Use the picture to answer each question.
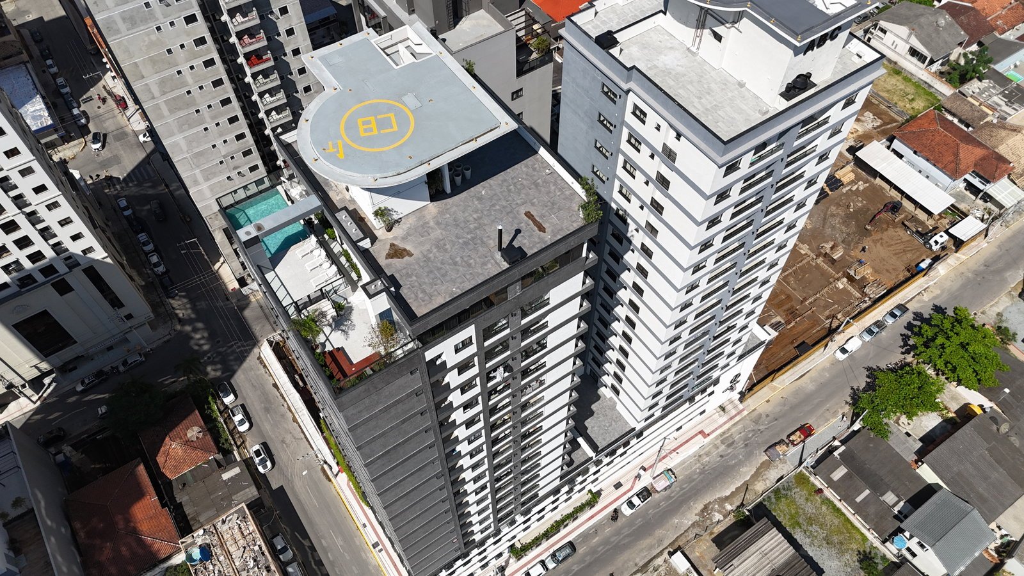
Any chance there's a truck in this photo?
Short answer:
Yes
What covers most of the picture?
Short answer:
buildings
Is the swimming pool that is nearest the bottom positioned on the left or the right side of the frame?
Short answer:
left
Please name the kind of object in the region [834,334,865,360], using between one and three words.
vehicle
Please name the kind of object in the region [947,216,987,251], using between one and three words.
shed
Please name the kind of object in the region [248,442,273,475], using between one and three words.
car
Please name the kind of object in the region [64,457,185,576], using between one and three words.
house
